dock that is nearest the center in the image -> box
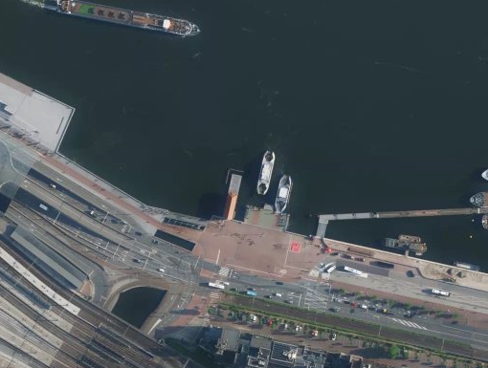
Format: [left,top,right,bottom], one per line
[226,168,244,220]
